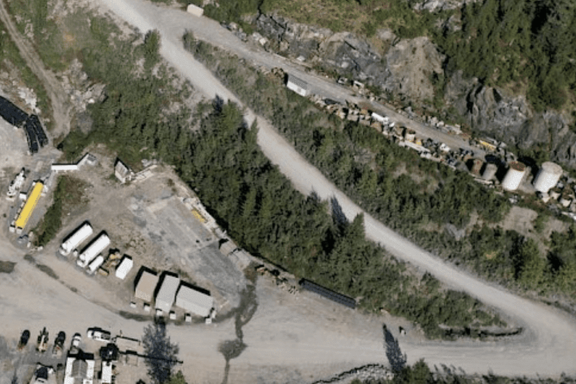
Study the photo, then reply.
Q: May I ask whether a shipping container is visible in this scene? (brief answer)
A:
Yes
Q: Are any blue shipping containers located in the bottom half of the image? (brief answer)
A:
No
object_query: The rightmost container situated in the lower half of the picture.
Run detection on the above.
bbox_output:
[300,271,359,309]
